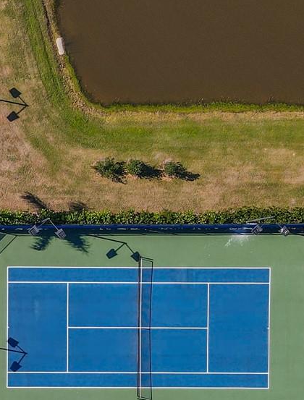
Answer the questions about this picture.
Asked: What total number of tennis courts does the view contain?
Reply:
1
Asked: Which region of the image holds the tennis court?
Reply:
bottom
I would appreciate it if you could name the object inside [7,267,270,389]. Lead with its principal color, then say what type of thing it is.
blue tennis court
